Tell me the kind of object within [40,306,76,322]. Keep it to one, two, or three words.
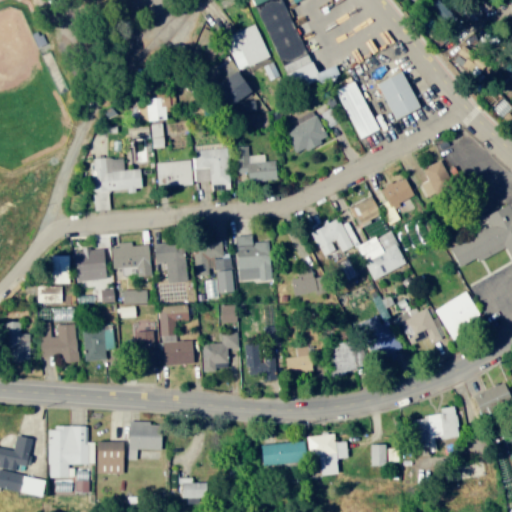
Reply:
greenhouse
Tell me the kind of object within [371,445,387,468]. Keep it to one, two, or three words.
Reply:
barn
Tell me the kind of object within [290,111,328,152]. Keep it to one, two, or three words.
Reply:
house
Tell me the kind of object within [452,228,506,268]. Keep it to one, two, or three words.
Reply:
building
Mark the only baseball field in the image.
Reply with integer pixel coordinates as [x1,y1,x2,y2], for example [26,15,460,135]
[0,2,72,170]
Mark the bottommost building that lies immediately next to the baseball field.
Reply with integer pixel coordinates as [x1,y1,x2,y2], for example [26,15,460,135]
[92,158,143,212]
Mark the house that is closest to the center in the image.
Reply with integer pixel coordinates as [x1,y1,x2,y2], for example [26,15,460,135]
[237,235,272,284]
